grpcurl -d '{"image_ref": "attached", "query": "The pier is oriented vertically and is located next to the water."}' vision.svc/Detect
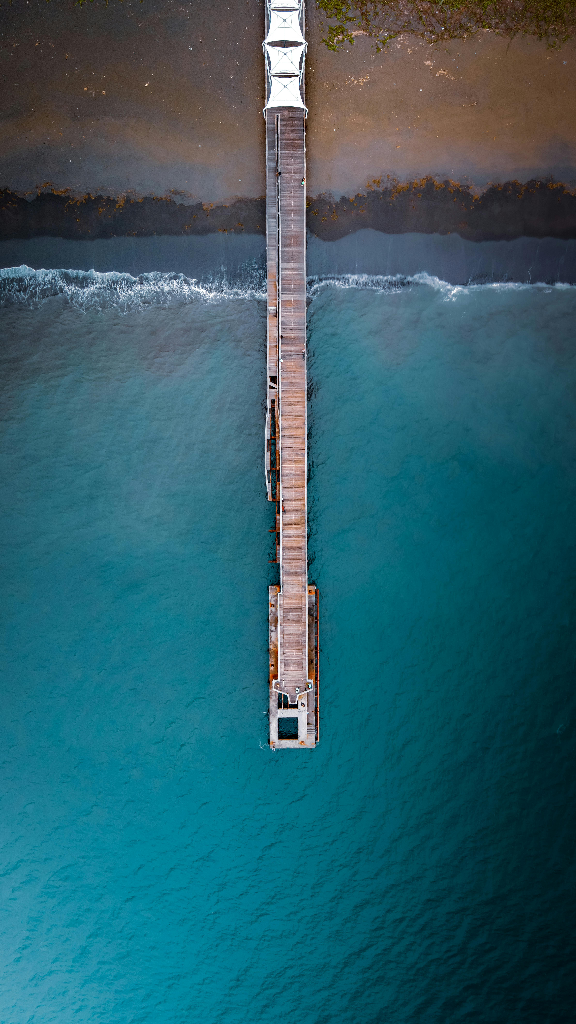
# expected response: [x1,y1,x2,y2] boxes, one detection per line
[266,0,314,704]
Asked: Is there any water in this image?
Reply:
Yes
